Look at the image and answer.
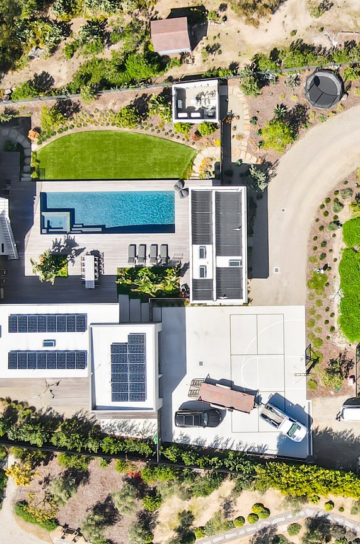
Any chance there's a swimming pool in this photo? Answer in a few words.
Yes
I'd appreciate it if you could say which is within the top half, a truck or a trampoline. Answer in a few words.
trampoline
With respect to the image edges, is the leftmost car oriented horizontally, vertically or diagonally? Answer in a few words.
horizontally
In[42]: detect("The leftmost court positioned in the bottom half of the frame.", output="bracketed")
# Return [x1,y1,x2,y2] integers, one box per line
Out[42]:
[157,305,307,456]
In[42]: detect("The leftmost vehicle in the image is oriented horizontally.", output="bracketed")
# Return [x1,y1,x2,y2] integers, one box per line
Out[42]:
[176,409,222,429]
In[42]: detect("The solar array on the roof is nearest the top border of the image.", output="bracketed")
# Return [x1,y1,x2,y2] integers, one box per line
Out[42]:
[8,315,87,332]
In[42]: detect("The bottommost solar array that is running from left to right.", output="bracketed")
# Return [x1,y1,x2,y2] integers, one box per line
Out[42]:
[8,351,87,369]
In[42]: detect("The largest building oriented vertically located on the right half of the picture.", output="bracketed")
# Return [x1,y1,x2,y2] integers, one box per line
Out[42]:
[189,187,249,305]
